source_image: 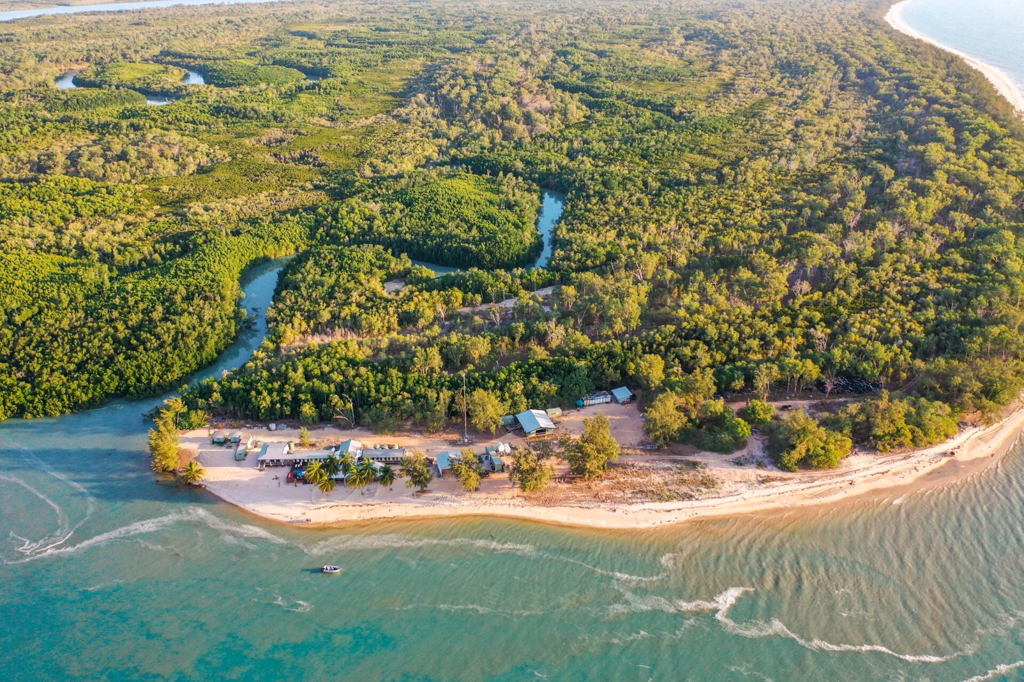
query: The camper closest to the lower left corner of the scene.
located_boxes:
[235,445,248,460]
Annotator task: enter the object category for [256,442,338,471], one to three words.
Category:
building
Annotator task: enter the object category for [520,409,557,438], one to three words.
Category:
house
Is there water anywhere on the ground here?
Yes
